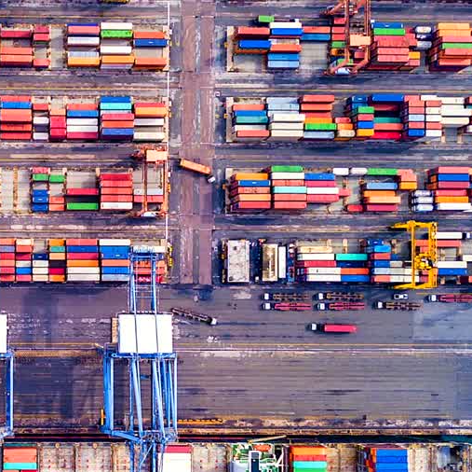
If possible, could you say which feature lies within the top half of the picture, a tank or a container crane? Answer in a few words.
container crane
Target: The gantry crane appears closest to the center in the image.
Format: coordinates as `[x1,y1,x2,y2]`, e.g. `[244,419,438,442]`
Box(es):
[132,145,168,221]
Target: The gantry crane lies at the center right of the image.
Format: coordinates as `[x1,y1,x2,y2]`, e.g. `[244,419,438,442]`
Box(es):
[386,221,436,293]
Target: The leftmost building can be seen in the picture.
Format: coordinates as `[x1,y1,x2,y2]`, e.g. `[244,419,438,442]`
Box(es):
[225,240,249,282]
